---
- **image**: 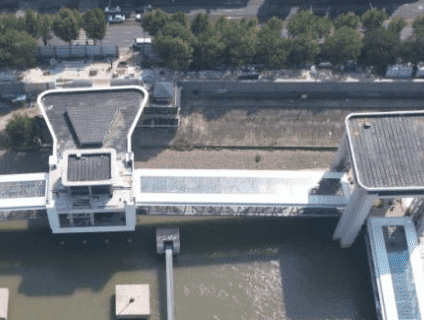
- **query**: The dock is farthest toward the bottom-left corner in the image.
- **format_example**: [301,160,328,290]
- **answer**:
[156,231,180,257]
